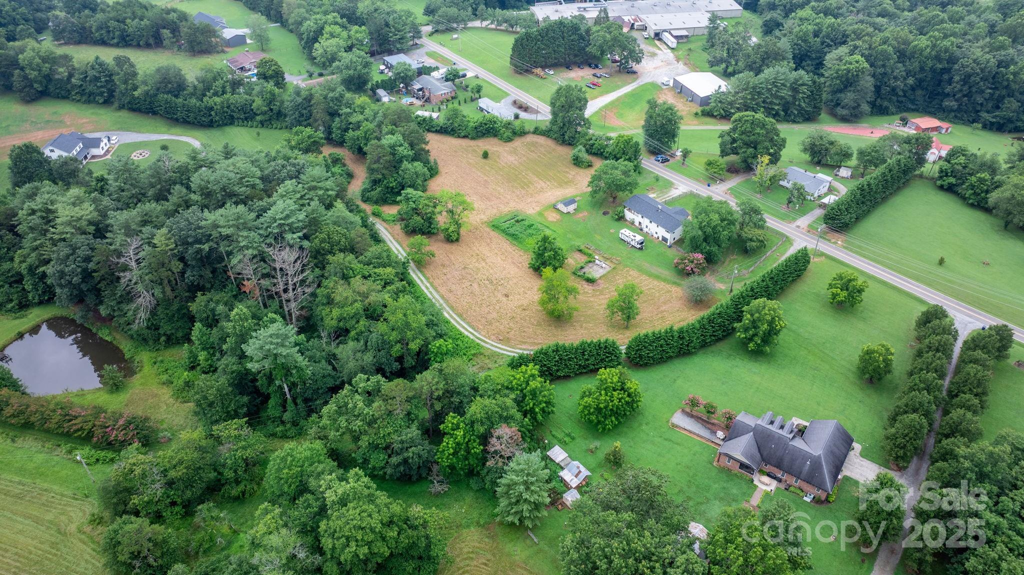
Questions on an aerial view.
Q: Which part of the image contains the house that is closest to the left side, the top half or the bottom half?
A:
top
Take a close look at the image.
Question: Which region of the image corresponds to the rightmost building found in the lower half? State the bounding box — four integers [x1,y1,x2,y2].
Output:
[718,409,854,500]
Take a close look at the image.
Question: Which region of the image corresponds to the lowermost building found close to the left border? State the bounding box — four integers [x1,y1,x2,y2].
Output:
[38,132,109,167]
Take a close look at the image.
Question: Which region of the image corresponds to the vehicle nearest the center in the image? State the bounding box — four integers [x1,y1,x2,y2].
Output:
[619,229,643,250]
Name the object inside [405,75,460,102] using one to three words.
house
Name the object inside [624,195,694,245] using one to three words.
house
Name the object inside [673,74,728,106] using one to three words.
building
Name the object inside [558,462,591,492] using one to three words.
shed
